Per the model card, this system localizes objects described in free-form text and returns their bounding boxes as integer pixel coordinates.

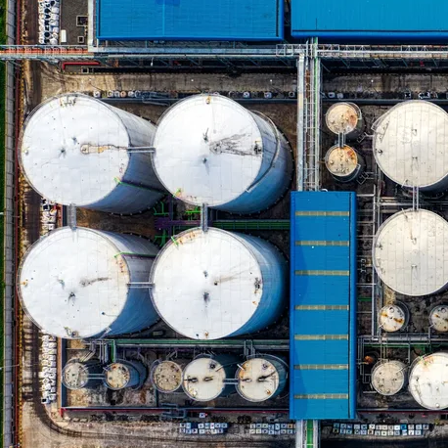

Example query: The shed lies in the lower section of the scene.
[292,191,359,419]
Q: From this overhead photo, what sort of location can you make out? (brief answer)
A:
industrial area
